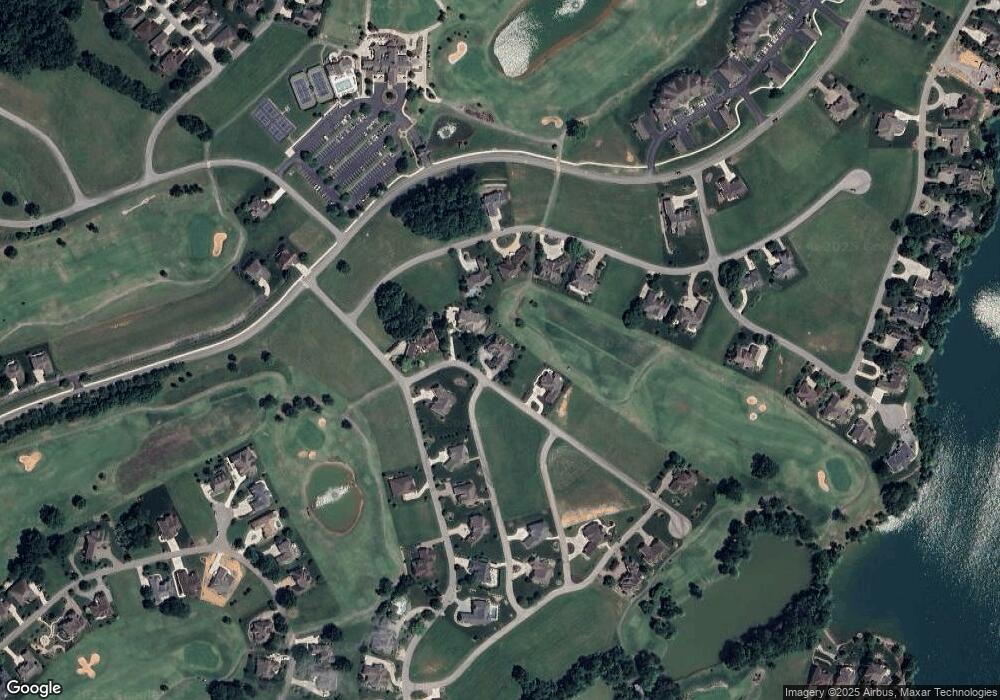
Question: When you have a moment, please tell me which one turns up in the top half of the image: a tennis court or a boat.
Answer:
tennis court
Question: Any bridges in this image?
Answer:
No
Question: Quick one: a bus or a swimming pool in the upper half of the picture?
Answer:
swimming pool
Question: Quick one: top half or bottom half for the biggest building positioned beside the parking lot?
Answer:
top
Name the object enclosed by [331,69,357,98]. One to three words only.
swimming pool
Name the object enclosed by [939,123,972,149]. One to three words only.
house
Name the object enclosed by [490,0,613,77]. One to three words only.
pond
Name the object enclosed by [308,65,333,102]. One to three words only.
tennis court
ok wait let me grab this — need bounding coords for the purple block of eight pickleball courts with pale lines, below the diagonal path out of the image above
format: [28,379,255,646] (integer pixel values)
[249,97,296,144]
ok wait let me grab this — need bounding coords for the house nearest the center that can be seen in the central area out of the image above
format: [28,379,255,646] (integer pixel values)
[482,334,519,371]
